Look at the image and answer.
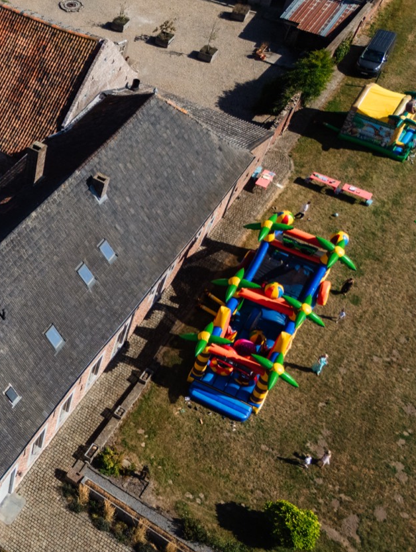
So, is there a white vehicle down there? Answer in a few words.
No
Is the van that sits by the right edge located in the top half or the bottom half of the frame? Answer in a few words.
top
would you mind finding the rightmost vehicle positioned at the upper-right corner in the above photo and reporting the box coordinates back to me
[362,24,406,72]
